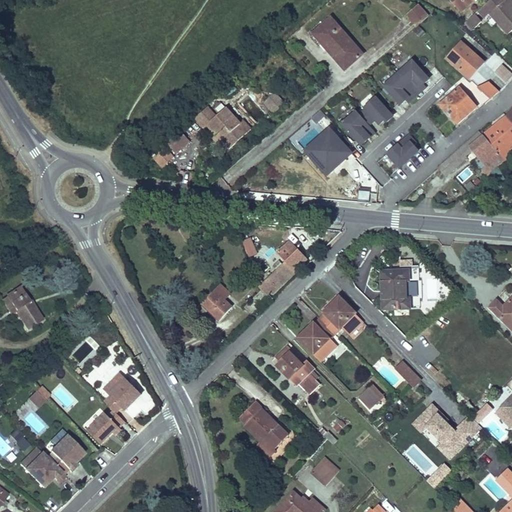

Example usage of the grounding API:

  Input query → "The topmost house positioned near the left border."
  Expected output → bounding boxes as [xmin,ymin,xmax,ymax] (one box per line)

[4,285,45,330]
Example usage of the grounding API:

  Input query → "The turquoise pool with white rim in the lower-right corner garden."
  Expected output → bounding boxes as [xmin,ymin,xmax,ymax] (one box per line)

[479,474,510,502]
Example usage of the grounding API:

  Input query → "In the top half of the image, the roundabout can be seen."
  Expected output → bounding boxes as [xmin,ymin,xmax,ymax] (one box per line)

[42,156,112,226]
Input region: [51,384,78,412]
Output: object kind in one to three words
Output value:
swimming pool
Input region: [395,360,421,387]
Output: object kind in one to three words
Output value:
building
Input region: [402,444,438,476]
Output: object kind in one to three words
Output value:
swimming pool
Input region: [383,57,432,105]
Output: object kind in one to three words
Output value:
house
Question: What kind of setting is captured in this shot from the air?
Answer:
residential area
